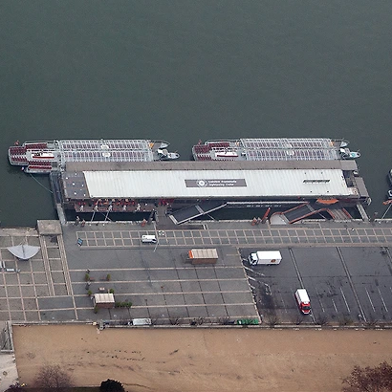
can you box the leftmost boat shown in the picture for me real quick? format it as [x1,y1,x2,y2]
[10,134,188,176]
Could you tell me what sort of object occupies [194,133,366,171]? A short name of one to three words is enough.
boat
